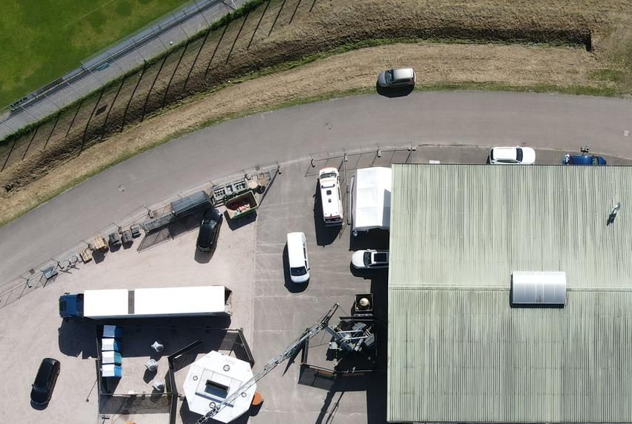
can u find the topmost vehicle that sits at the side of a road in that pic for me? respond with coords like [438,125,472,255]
[379,67,416,89]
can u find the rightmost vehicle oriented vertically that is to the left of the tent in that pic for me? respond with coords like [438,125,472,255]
[316,171,344,229]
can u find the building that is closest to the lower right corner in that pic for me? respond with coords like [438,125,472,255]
[387,163,632,424]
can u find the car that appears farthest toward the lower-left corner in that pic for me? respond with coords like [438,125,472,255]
[28,357,62,405]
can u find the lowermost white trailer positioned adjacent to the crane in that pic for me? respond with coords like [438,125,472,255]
[84,286,238,322]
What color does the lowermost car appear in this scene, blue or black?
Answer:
black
